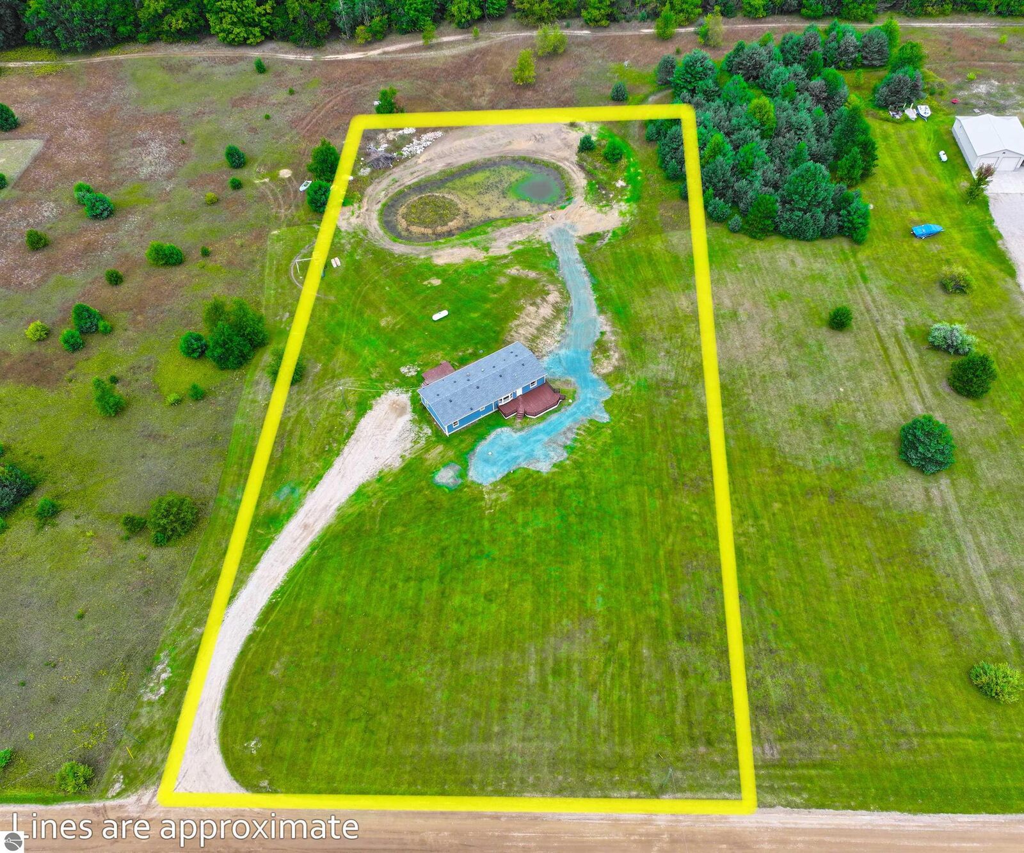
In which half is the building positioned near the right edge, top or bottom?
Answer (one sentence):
It is in the top half that the building positioned near the right edge appears.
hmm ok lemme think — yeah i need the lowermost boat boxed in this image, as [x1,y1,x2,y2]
[908,223,947,239]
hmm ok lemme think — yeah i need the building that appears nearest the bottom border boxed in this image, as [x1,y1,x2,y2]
[418,340,547,436]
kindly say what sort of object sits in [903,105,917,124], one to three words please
boat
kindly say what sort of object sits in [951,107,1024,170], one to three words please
building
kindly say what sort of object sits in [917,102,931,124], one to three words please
boat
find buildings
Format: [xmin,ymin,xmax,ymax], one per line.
[418,340,547,436]
[951,107,1024,170]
